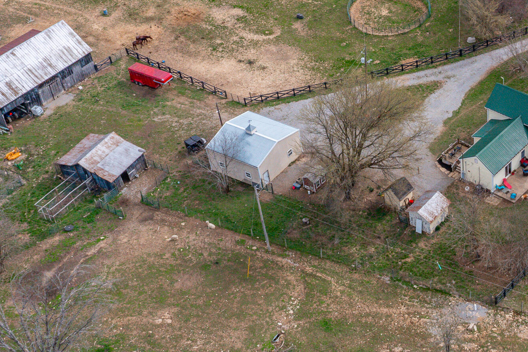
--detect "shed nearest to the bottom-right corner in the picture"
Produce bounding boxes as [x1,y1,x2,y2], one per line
[404,191,450,234]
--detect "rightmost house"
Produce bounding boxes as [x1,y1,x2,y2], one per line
[457,77,528,192]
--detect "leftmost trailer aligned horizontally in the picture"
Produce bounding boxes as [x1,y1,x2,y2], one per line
[126,62,171,89]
